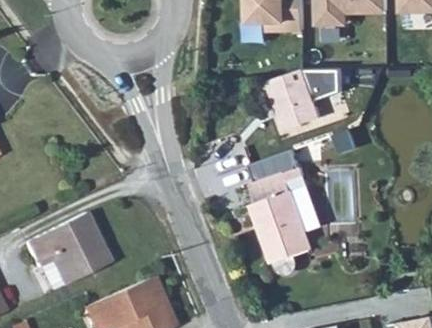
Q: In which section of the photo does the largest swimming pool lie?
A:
right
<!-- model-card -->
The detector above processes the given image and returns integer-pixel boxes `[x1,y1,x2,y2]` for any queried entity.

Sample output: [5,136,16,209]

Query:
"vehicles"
[222,172,249,188]
[214,138,236,158]
[114,71,130,92]
[218,158,248,172]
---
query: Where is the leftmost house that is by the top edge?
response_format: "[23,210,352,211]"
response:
[238,0,304,44]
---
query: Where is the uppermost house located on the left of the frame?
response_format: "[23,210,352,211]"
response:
[27,212,116,290]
